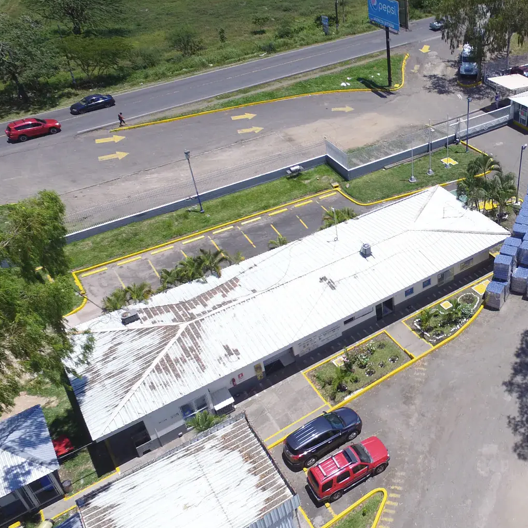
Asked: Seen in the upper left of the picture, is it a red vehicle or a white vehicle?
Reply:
red vehicle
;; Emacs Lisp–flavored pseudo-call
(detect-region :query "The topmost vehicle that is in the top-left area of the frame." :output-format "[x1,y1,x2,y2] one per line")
[64,92,117,116]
